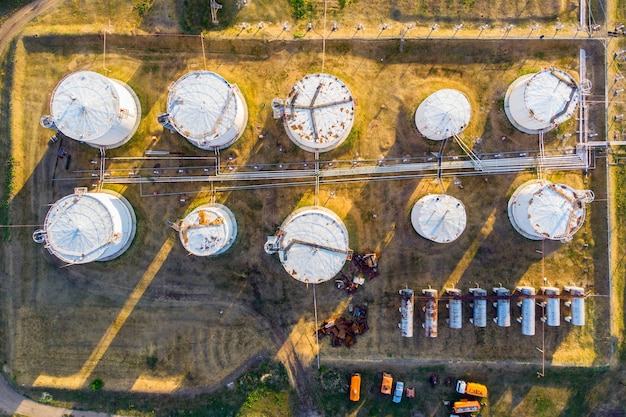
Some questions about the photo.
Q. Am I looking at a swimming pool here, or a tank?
tank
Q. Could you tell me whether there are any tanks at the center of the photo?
Yes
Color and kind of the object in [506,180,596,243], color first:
white storage tank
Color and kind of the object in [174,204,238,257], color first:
white storage tank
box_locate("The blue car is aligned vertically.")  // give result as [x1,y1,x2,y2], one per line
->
[392,382,405,405]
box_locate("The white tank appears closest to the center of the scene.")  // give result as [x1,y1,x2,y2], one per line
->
[265,207,355,289]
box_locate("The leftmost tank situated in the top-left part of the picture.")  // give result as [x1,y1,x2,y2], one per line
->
[39,70,141,152]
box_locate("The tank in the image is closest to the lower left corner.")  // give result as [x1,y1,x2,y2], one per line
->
[29,188,134,270]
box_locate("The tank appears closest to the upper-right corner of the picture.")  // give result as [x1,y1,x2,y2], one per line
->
[503,65,593,136]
